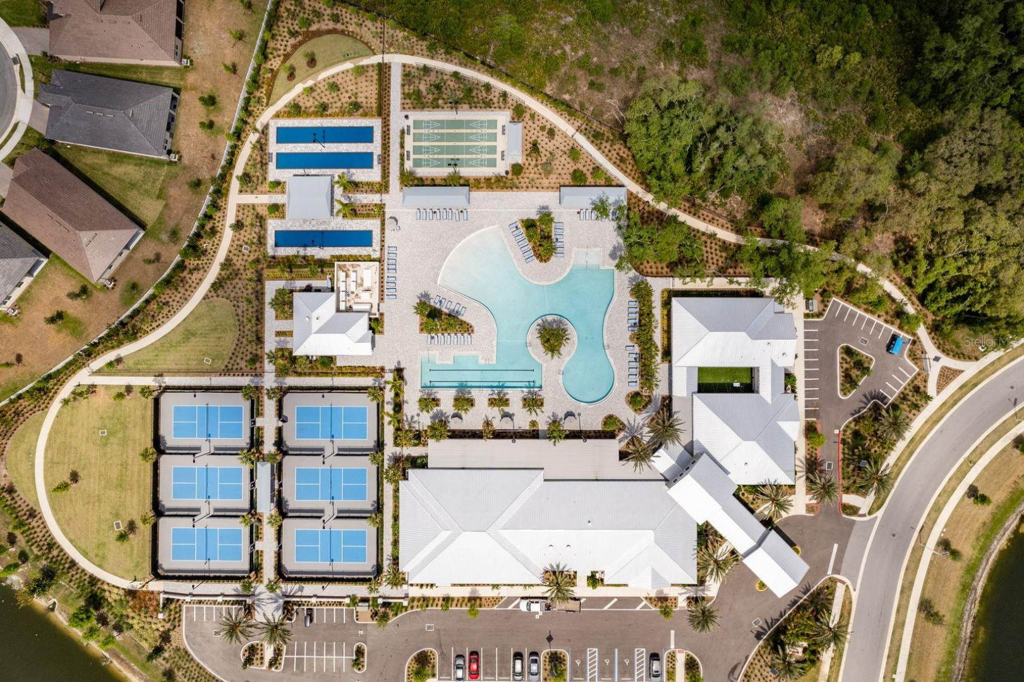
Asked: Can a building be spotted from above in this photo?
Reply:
Yes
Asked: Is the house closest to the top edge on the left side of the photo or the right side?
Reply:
left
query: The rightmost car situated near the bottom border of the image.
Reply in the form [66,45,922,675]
[650,654,662,679]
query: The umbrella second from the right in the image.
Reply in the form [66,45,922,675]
[500,414,514,427]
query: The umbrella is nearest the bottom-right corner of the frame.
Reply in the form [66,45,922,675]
[563,414,577,427]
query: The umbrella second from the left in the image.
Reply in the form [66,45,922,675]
[450,414,464,427]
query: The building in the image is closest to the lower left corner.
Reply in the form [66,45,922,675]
[257,462,274,512]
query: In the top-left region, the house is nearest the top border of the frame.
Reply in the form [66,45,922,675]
[49,0,190,65]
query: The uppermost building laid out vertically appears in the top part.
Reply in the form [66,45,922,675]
[509,122,522,157]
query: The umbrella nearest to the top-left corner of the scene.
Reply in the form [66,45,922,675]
[384,219,397,233]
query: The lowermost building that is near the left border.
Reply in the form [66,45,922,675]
[0,219,57,306]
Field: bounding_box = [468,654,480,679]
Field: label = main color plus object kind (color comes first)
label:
red vehicle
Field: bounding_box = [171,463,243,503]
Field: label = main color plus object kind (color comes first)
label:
blue sports court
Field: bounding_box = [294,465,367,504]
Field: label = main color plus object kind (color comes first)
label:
blue sports court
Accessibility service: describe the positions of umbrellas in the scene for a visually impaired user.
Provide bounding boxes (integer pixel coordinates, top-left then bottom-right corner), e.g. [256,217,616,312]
[500,414,514,427]
[384,219,397,233]
[450,414,464,427]
[563,414,577,427]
